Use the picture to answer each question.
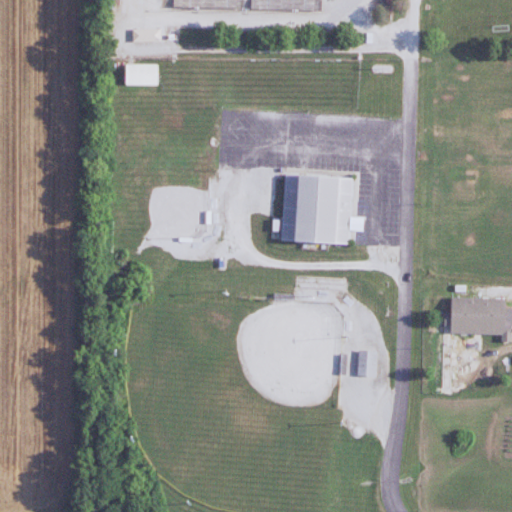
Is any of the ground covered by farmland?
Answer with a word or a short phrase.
Yes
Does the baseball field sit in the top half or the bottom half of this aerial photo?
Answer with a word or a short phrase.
bottom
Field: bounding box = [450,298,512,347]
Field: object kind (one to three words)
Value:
house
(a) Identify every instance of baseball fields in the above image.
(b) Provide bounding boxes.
[126,296,344,512]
